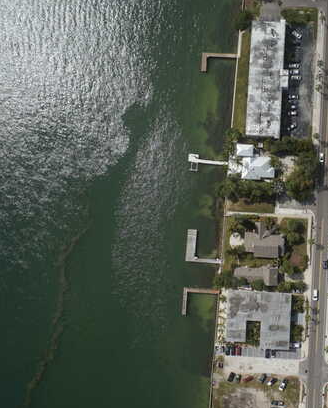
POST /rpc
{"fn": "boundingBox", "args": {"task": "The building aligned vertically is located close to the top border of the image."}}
[246,20,289,140]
